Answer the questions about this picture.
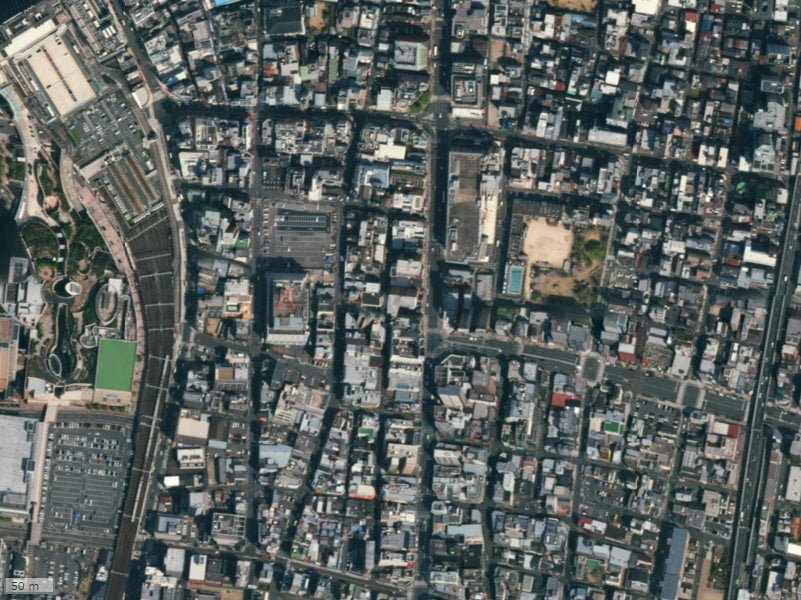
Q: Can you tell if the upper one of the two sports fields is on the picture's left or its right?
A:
right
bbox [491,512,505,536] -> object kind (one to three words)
building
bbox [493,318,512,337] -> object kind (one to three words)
house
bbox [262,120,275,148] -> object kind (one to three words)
building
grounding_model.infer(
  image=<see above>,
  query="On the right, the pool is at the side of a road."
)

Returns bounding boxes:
[504,262,527,298]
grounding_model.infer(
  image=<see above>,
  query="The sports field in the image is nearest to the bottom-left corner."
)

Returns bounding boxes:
[95,337,138,393]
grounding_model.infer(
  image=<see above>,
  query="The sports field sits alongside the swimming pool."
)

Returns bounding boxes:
[524,219,574,267]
